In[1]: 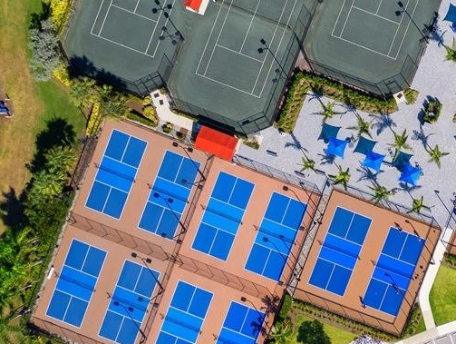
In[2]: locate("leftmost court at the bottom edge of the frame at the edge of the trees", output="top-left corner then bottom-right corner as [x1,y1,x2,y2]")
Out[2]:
[30,219,121,344]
